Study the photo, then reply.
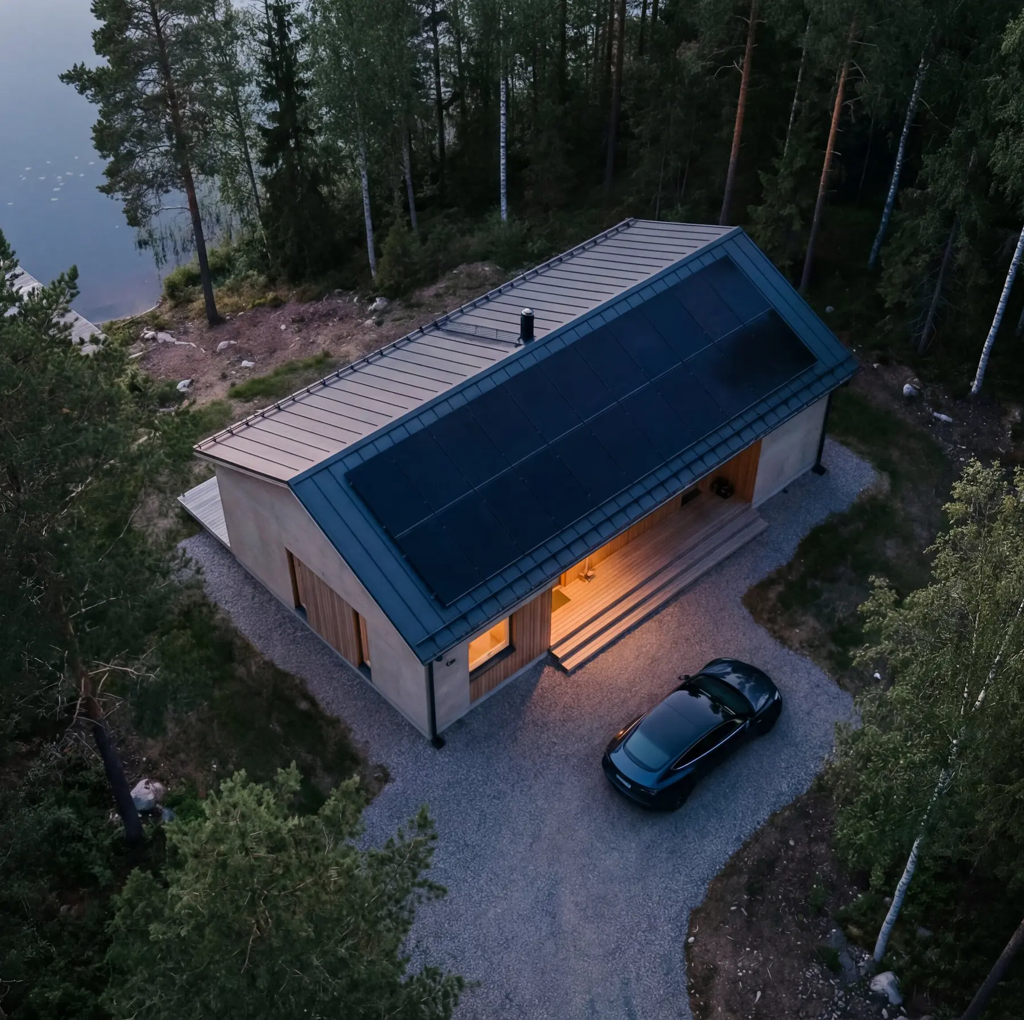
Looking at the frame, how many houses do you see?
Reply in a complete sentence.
The picture shows just 1 house.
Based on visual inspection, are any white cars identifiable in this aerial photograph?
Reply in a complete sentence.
No, I can't see a single white car in this photo.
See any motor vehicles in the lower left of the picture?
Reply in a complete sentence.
No, no motor vehicle is visible in the lower left of the picture.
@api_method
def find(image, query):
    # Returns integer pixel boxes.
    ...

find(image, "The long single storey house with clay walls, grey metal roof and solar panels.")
[194,215,862,750]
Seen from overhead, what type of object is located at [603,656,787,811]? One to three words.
car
